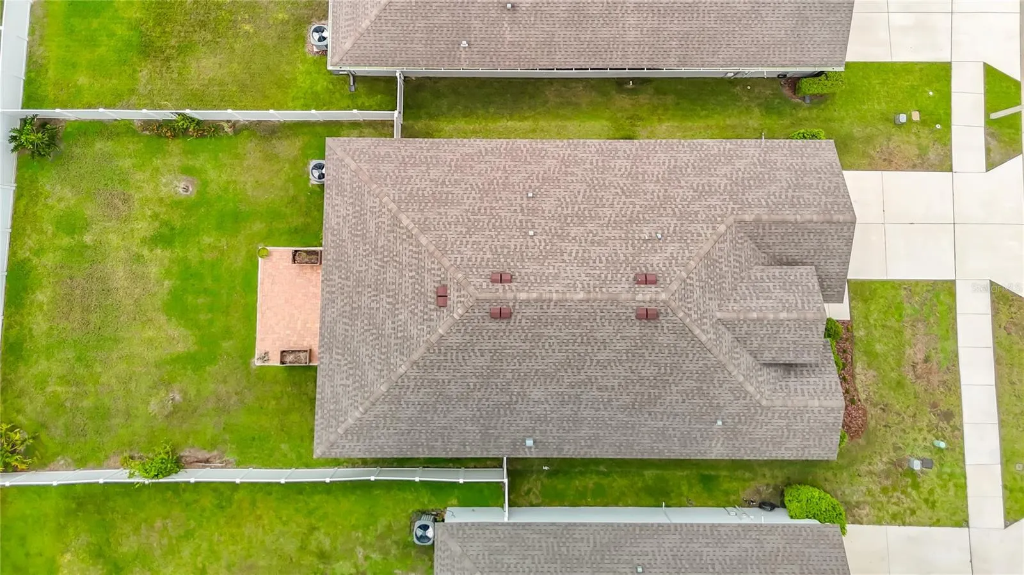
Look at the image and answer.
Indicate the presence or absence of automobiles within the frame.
No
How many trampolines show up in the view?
none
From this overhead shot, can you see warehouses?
No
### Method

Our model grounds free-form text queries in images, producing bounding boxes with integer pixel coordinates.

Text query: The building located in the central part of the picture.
[313,137,858,461]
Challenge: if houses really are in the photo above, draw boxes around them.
[313,137,858,461]
[434,507,851,575]
[328,0,856,87]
